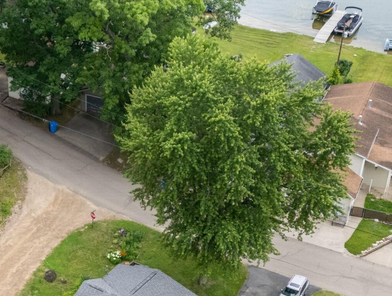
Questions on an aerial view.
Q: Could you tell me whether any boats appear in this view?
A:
Yes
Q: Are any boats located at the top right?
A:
Yes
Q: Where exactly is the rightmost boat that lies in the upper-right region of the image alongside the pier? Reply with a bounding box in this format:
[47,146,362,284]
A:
[335,5,364,34]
